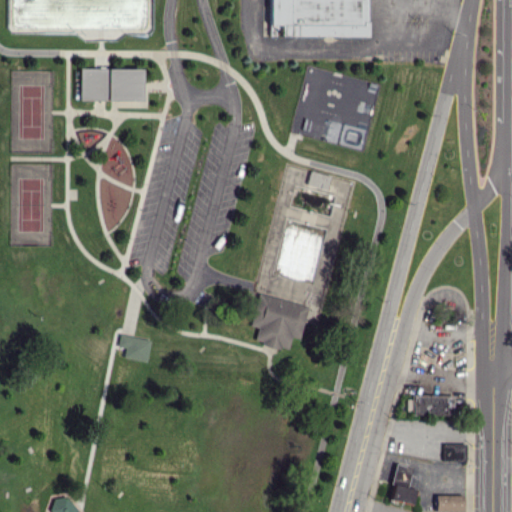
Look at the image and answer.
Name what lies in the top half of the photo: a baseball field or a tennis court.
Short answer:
tennis court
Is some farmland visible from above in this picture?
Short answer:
No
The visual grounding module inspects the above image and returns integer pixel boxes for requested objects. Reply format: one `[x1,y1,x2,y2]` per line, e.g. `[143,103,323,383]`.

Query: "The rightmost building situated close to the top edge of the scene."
[272,0,372,42]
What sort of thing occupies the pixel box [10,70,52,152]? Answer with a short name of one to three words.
tennis court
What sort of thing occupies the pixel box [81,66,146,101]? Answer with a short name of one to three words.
building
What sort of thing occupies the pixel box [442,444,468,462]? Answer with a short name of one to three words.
building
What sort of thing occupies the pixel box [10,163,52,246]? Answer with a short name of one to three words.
tennis court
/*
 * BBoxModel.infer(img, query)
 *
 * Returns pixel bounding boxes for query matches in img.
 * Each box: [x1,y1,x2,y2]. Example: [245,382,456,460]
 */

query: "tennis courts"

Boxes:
[10,70,52,152]
[10,163,52,246]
